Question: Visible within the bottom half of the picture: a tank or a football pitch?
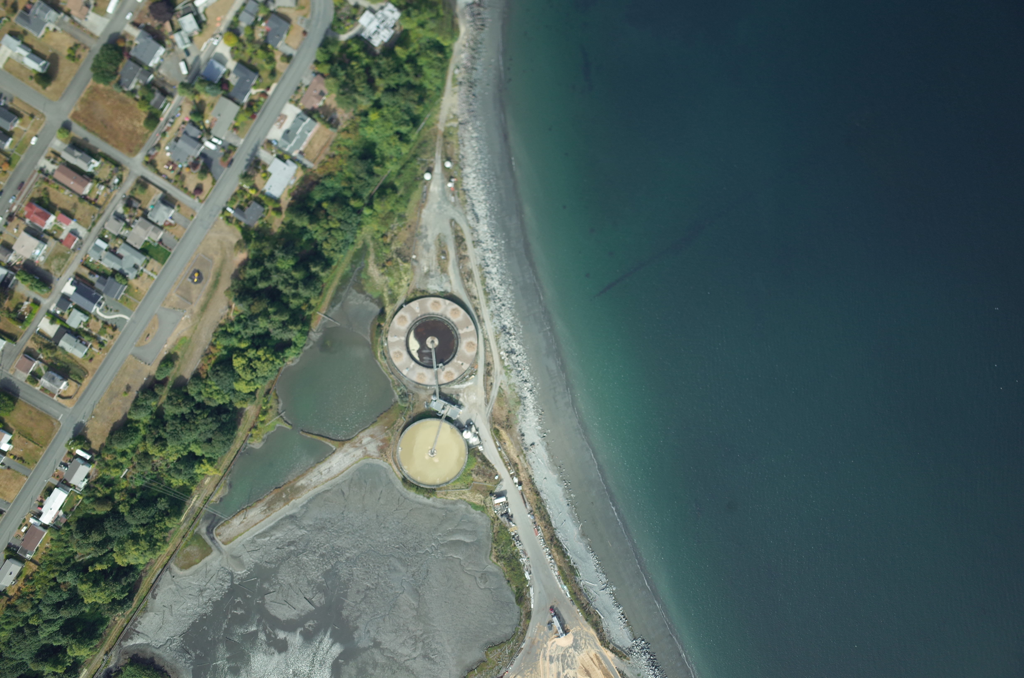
tank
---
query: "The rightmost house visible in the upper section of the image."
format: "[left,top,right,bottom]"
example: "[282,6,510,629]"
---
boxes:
[358,4,394,48]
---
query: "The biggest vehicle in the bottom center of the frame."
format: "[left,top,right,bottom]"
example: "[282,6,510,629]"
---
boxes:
[549,607,565,638]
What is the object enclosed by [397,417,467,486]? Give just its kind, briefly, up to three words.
storage tank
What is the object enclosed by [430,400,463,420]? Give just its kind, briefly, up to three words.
building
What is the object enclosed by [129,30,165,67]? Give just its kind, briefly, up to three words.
house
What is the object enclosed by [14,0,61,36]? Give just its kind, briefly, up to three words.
house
